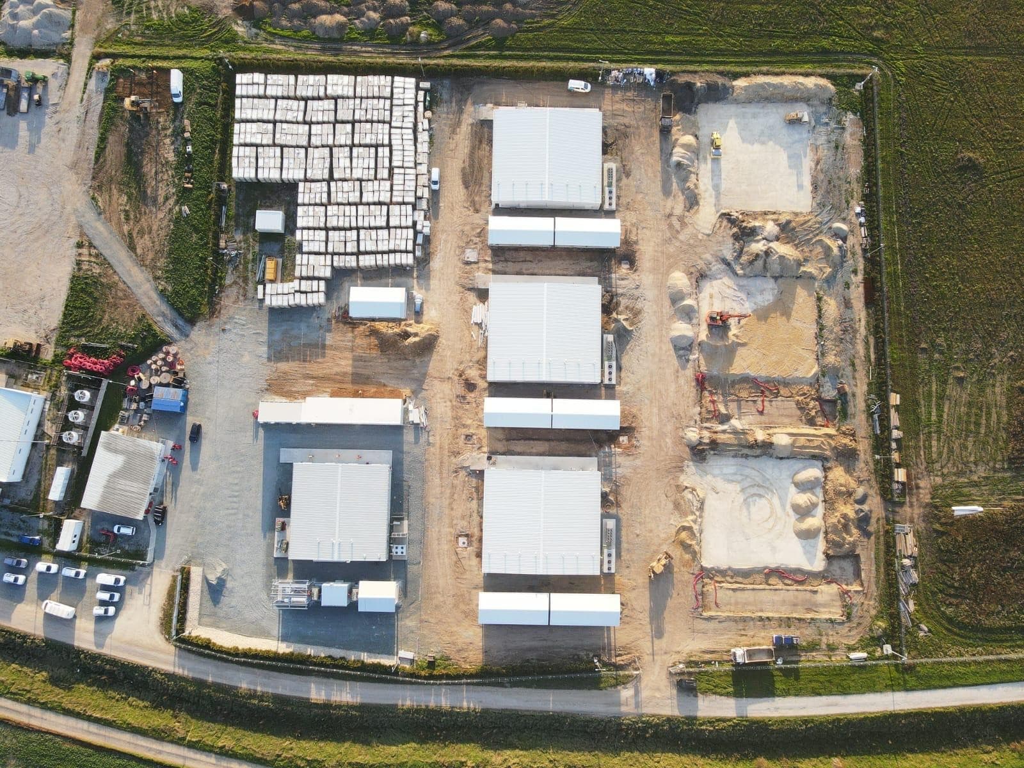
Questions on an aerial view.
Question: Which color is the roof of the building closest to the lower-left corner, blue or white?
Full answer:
The color of the roof of the building closest to the lower-left corner is white.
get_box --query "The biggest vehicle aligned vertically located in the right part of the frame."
[659,92,675,133]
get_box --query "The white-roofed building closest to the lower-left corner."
[58,518,85,550]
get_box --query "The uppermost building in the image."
[491,109,603,210]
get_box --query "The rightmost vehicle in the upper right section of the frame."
[782,111,808,126]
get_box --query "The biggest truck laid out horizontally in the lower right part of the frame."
[729,644,778,666]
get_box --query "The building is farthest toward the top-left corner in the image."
[256,211,287,235]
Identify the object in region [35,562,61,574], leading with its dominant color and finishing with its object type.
white vehicle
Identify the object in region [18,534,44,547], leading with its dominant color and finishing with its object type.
blue vehicle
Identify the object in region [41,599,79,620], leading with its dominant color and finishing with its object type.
white vehicle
